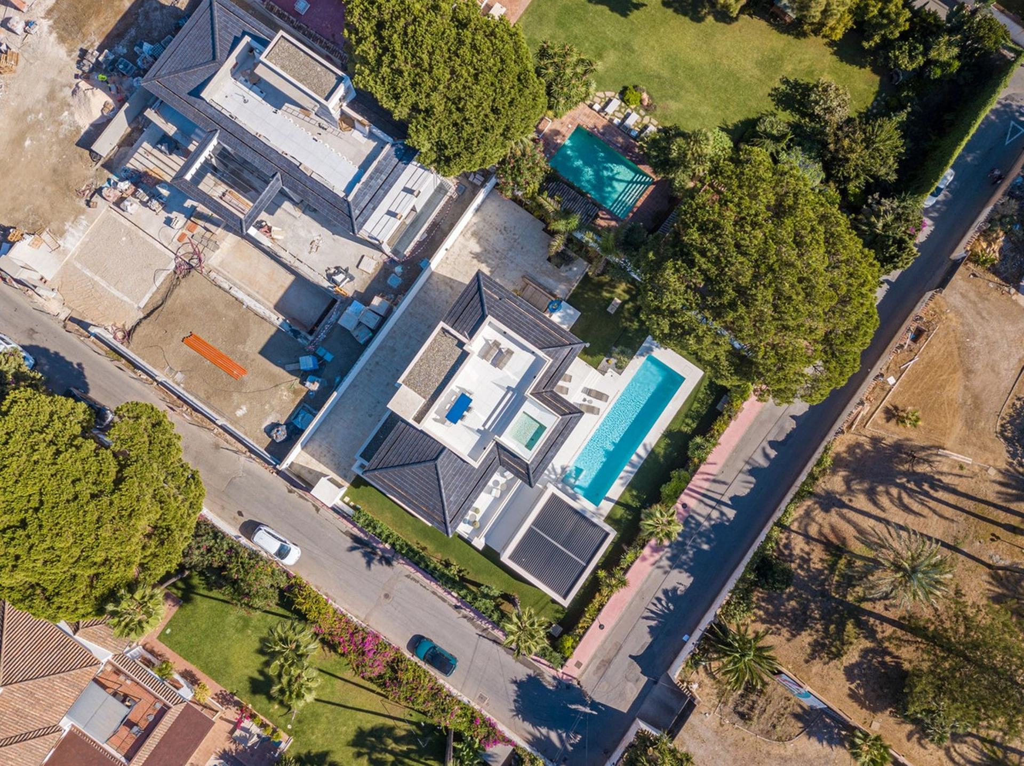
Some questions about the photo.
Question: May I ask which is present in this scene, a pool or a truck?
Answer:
pool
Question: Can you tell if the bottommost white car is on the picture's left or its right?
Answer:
left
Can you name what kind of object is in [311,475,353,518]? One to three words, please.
building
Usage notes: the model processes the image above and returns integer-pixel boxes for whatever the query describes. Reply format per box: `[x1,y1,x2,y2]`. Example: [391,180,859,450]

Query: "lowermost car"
[411,634,461,679]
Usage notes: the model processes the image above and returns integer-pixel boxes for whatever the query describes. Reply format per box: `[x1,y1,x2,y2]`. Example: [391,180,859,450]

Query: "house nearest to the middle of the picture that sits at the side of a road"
[350,270,590,558]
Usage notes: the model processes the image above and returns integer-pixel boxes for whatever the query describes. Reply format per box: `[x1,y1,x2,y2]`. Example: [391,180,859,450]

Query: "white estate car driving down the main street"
[247,520,304,568]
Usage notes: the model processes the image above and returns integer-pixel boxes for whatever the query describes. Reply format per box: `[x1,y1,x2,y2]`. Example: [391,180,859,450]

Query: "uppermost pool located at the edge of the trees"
[549,125,653,218]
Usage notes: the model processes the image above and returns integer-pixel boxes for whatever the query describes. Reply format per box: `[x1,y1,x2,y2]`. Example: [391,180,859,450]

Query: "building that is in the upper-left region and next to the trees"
[91,0,455,262]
